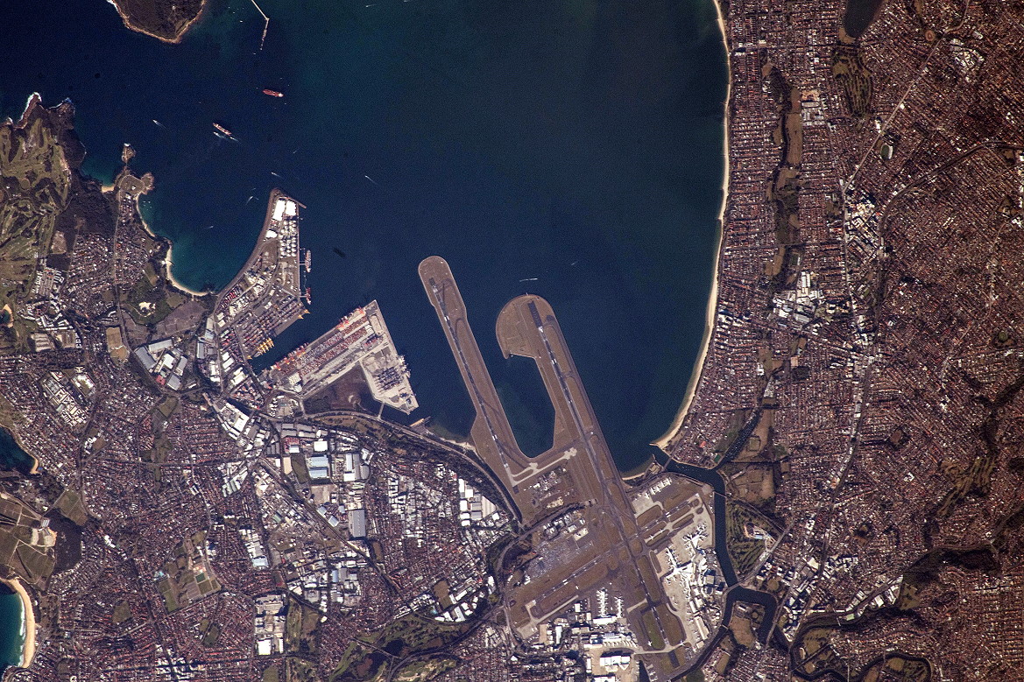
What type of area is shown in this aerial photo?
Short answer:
port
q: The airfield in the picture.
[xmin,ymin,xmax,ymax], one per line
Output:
[418,256,726,682]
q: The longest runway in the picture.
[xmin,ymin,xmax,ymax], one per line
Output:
[528,301,681,669]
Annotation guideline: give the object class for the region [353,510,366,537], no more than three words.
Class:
building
